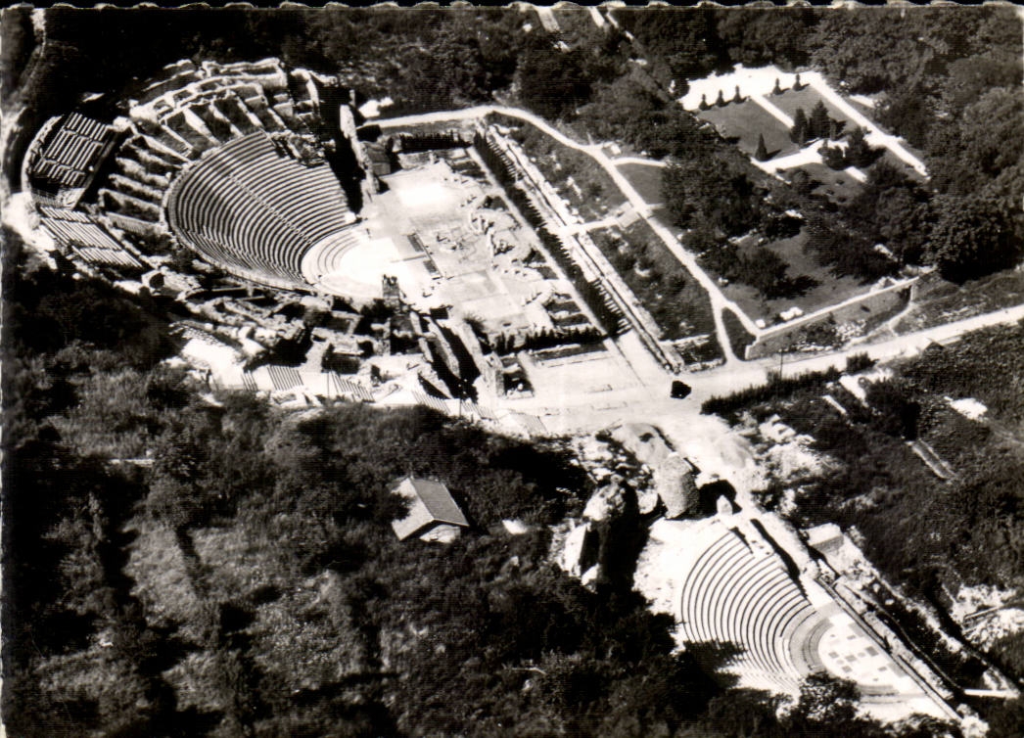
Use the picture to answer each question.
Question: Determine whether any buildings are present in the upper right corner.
No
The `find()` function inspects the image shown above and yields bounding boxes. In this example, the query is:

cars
[670,377,693,396]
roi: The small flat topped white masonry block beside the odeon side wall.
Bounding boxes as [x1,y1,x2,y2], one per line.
[804,525,844,560]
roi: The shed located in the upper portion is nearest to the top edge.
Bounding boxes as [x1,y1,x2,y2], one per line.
[360,117,381,143]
